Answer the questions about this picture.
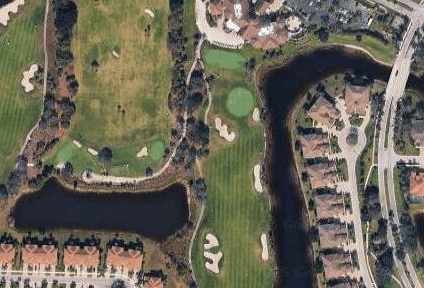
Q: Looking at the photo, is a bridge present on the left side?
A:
No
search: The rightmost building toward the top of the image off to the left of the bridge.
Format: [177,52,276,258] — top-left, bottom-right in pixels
[347,86,369,112]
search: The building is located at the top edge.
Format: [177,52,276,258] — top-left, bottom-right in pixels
[208,0,306,51]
